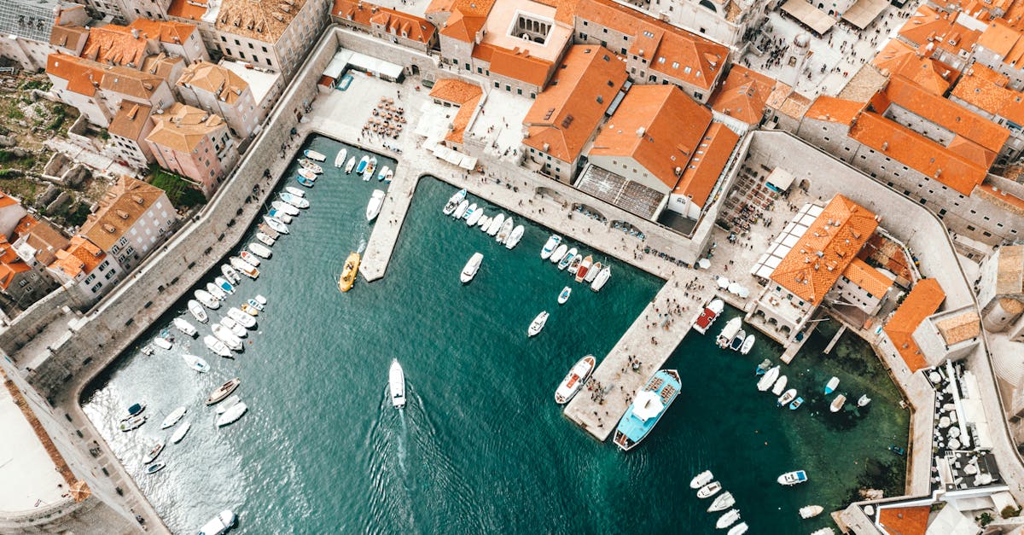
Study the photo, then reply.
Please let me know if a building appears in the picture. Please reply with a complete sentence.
Yes, I can see a building in this picture.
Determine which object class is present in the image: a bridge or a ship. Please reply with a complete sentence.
Visible in the photo is a ship.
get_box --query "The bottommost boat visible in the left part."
[194,513,236,535]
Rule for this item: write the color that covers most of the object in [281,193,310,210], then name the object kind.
white boat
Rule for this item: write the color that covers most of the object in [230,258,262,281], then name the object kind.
white boat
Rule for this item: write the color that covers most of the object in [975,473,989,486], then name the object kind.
white umbrella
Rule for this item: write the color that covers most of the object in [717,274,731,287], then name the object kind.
white umbrella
